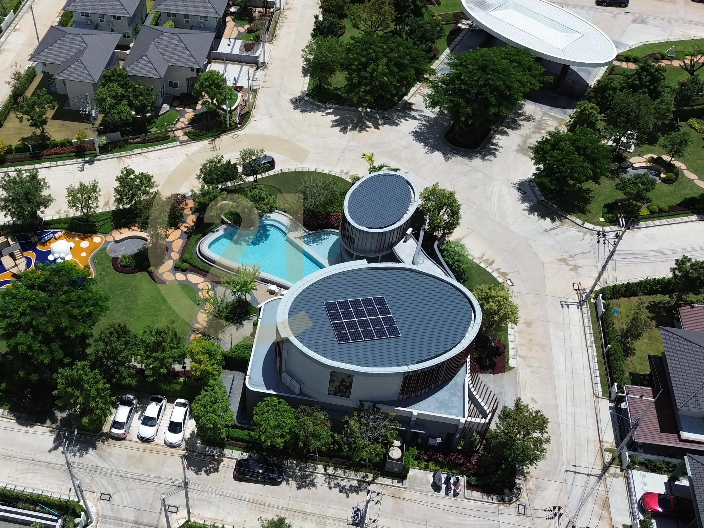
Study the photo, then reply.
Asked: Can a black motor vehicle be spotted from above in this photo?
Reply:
Yes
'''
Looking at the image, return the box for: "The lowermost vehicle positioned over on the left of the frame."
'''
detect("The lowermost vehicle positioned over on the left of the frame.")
[230,454,289,487]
